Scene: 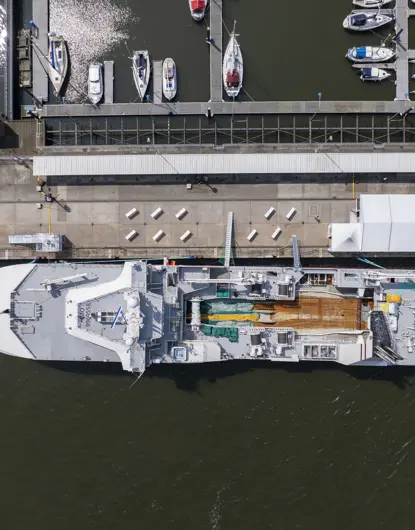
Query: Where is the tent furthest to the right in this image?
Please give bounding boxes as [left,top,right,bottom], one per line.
[352,194,415,252]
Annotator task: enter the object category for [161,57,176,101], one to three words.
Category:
boat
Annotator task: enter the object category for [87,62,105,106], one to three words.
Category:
boat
